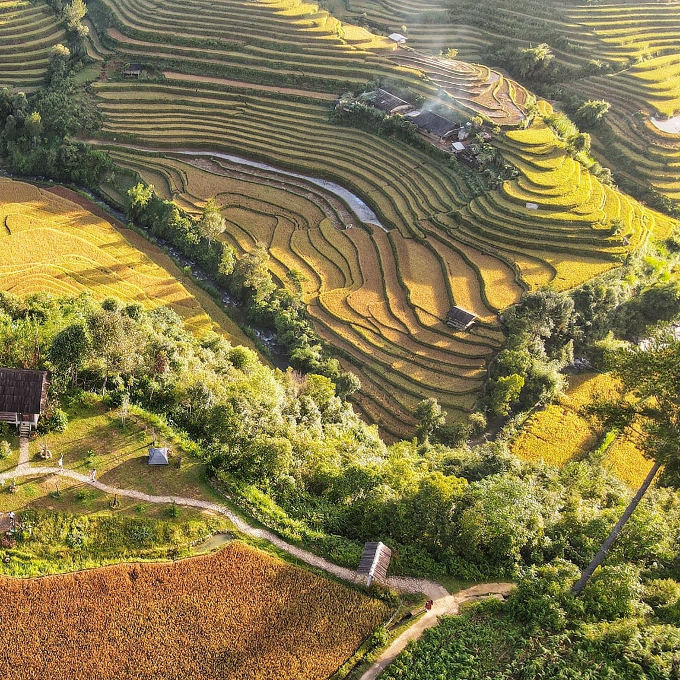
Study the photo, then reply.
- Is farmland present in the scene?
Yes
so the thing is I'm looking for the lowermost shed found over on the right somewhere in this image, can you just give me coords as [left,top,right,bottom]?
[444,305,478,336]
